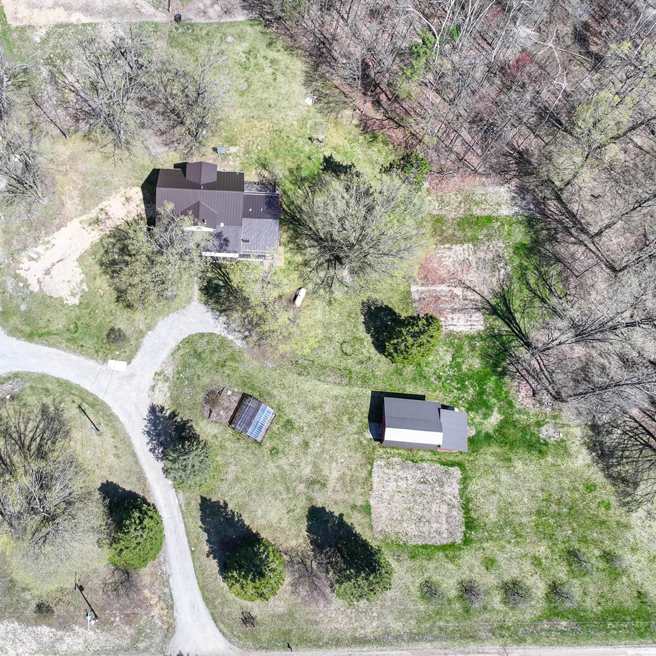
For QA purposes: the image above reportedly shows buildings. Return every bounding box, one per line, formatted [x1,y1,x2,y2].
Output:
[228,394,279,444]
[155,157,279,270]
[370,400,464,453]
